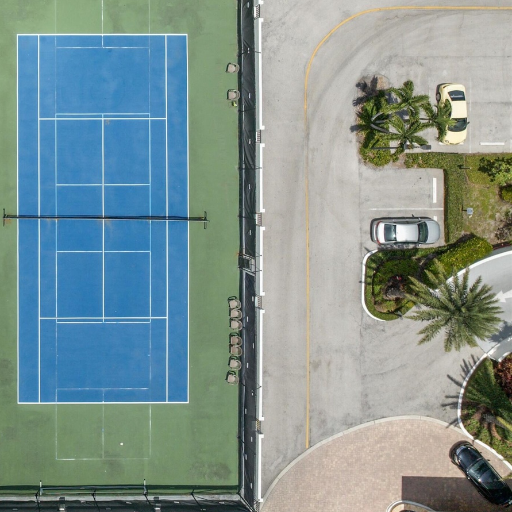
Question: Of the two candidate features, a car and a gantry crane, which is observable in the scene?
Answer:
car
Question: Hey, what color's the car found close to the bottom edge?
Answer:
black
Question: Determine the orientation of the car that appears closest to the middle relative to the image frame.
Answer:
from side to side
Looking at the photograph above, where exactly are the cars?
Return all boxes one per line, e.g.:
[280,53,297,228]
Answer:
[434,81,469,148]
[366,217,440,247]
[449,441,512,508]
